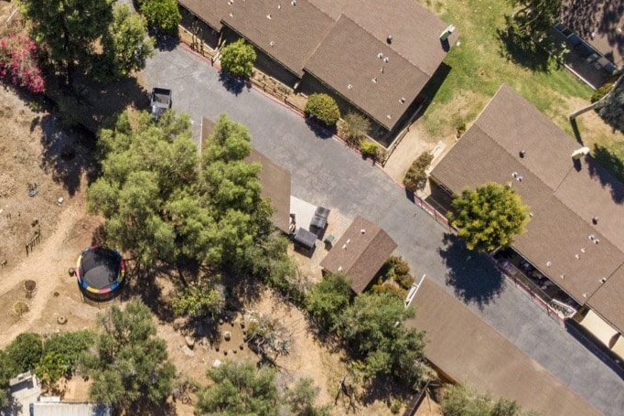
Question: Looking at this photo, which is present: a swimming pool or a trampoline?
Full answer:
This aerial view contains a trampoline.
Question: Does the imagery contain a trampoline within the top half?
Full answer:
No, there is no trampoline within the top half.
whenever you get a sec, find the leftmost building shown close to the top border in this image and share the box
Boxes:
[178,0,462,131]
